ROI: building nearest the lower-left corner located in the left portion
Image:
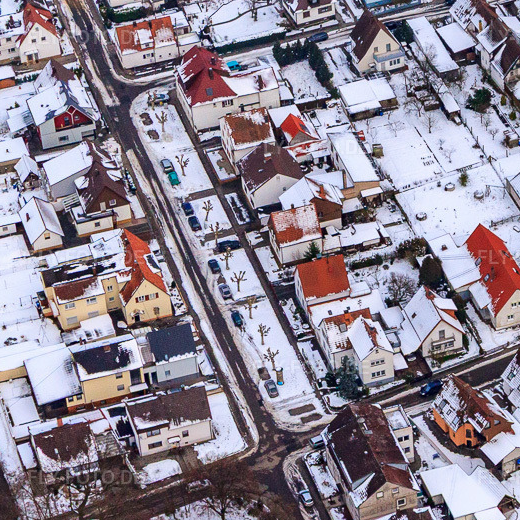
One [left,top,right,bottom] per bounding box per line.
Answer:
[17,442,39,479]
